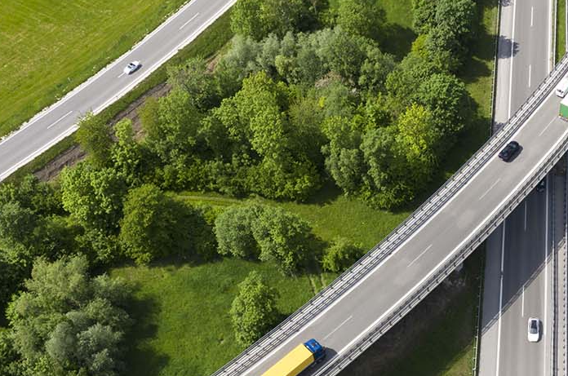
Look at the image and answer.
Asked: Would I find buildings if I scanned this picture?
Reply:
No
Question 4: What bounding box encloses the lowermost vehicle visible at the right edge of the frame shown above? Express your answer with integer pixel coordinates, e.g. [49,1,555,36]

[527,316,541,343]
